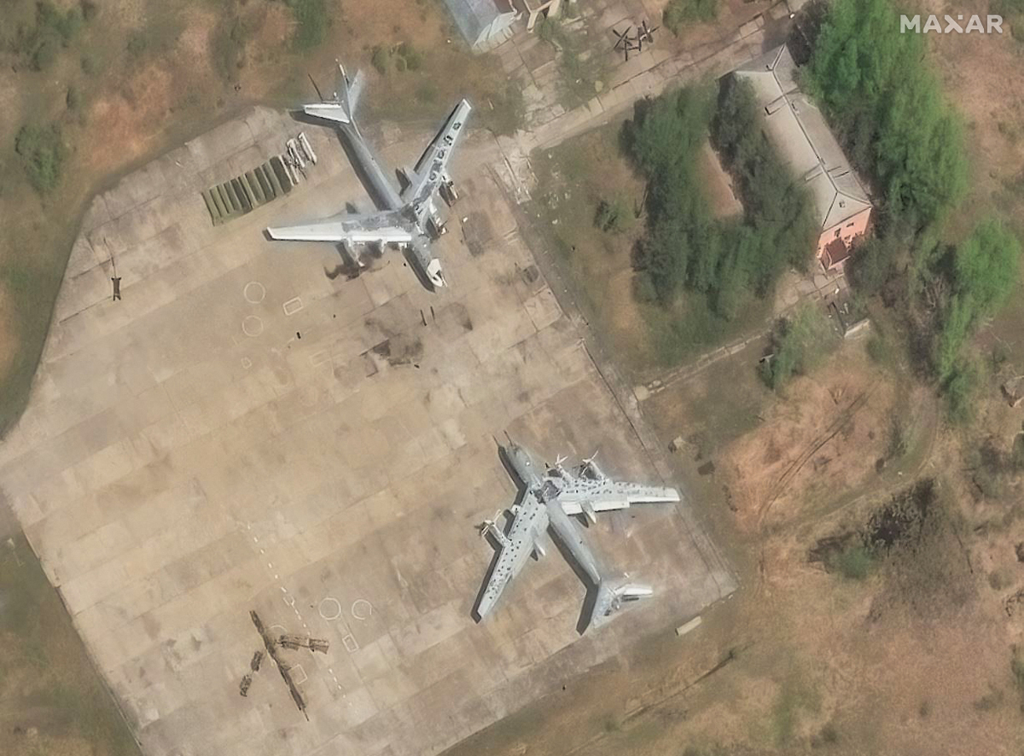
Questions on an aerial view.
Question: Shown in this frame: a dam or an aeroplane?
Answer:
aeroplane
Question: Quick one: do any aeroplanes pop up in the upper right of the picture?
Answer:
No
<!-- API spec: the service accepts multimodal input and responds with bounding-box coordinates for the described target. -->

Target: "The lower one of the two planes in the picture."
[474,431,679,628]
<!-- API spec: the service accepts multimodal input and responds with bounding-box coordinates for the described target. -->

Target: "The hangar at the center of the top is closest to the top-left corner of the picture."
[443,0,516,60]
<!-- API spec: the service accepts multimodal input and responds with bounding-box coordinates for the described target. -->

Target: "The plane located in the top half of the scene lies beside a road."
[263,60,467,293]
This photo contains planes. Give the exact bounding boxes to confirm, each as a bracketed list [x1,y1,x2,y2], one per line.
[263,60,467,293]
[474,431,679,628]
